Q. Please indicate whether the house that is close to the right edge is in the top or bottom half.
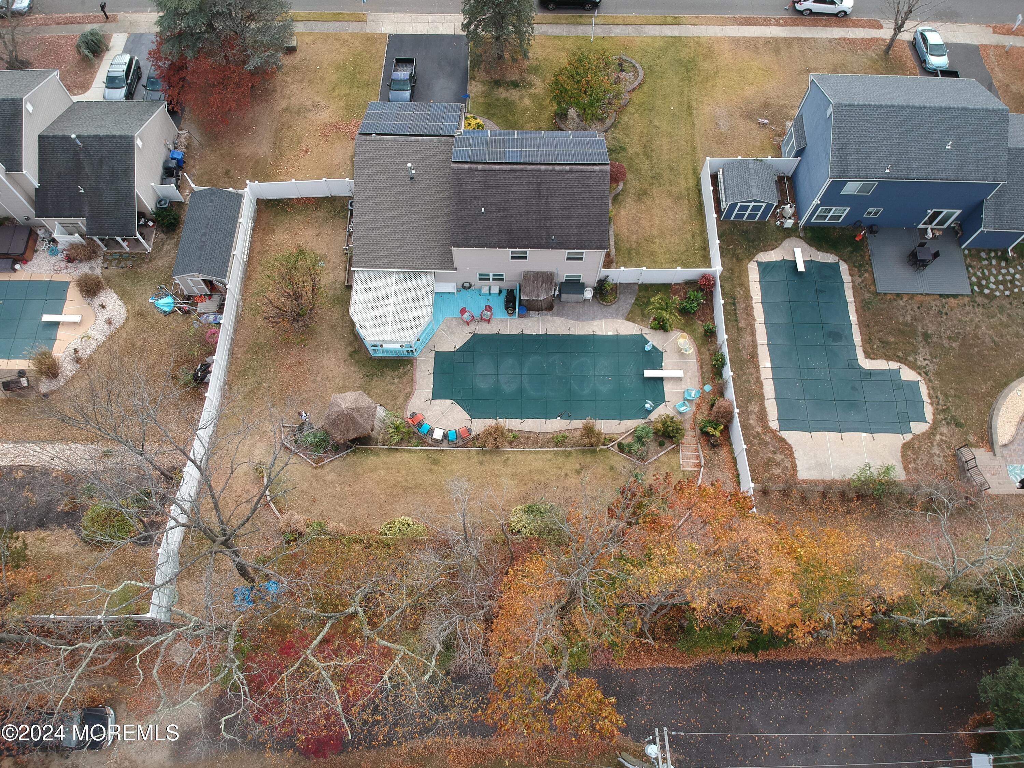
top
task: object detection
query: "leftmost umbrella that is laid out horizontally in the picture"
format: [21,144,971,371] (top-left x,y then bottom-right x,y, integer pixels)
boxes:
[155,296,196,311]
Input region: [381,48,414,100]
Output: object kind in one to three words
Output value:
truck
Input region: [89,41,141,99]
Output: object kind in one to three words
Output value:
car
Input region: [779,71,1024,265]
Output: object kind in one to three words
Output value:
house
